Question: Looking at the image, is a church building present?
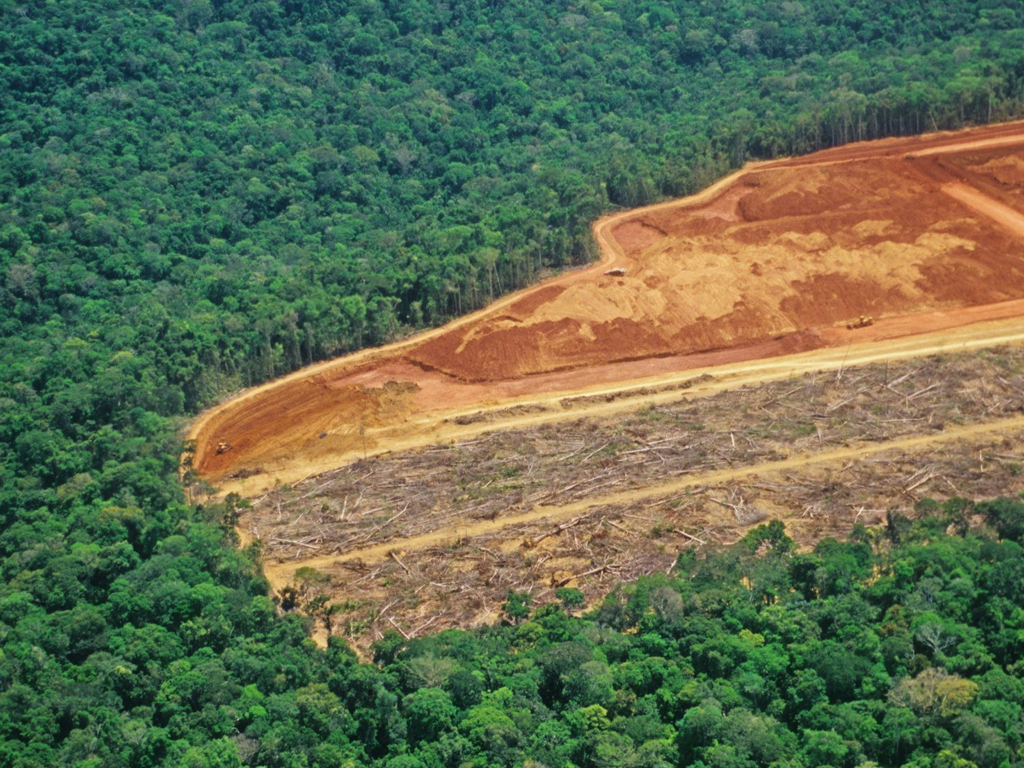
No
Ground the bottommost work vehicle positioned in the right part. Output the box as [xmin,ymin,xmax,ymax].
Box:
[849,317,872,331]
